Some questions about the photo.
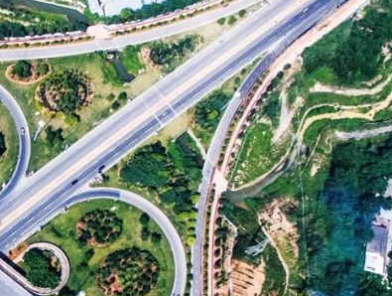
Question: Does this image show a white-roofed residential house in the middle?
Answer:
No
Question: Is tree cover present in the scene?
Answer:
Yes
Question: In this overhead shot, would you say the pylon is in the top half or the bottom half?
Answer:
bottom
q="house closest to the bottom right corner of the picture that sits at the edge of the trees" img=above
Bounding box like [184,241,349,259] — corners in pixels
[361,251,385,272]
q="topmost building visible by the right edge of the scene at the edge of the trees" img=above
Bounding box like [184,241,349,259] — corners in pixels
[363,225,388,255]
